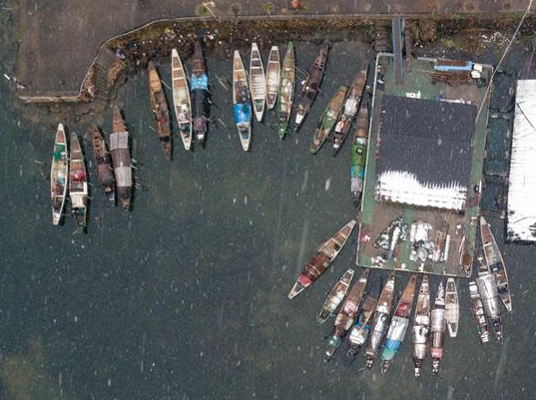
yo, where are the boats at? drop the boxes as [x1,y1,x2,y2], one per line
[277,40,308,139]
[266,44,281,108]
[446,278,460,339]
[145,60,173,159]
[190,40,226,152]
[469,281,490,344]
[89,123,117,207]
[231,48,258,151]
[49,121,68,225]
[430,282,447,379]
[382,273,417,379]
[332,59,369,156]
[477,250,505,353]
[481,216,513,313]
[317,268,353,325]
[412,273,431,383]
[310,84,347,154]
[249,40,266,121]
[368,271,396,371]
[288,219,357,300]
[68,131,88,232]
[170,46,193,149]
[110,104,152,216]
[352,98,370,213]
[347,273,384,364]
[325,268,370,364]
[293,40,329,130]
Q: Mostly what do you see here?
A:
water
